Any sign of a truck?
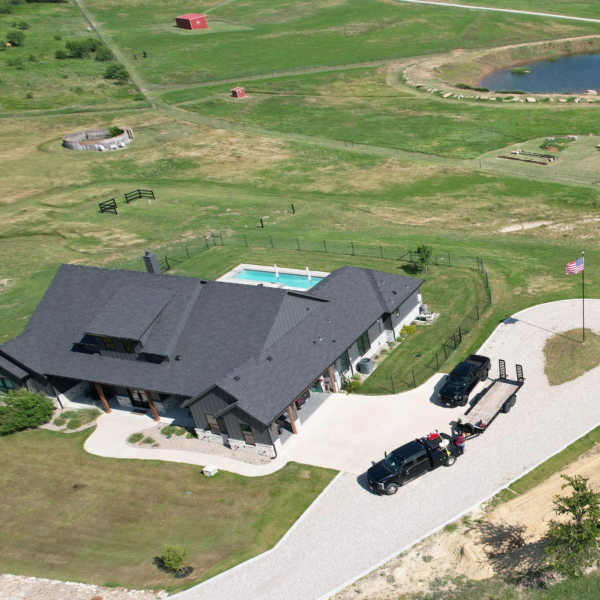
Yes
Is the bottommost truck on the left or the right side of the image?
right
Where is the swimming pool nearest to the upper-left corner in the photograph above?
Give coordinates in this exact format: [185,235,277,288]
[217,263,329,296]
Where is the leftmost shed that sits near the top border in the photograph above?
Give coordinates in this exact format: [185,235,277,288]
[174,12,204,29]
